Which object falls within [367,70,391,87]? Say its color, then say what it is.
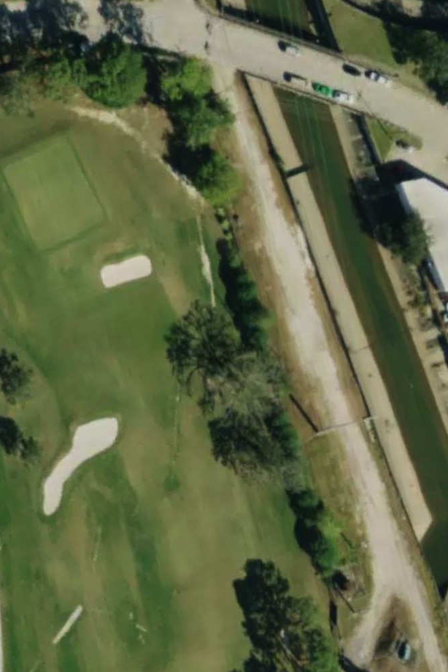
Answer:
white vehicle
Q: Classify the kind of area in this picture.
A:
golf course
